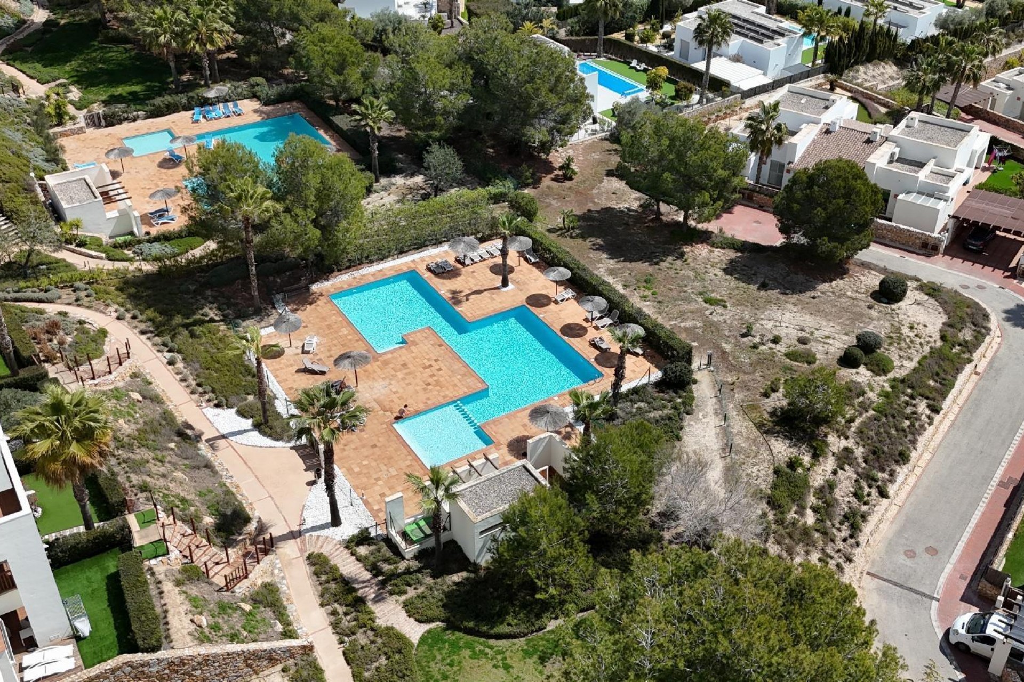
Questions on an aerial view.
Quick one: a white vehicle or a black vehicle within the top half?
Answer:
black vehicle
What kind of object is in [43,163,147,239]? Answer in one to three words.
building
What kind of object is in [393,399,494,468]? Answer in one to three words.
swimming pool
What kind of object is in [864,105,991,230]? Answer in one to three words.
house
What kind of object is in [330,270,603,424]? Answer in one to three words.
swimming pool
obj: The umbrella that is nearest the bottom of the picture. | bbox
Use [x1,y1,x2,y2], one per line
[527,402,571,434]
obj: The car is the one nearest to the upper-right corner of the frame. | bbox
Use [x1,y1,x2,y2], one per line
[967,225,1001,251]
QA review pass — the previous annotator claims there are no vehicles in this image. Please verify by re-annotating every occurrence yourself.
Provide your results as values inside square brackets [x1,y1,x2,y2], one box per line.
[954,615,1024,679]
[967,225,1001,251]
